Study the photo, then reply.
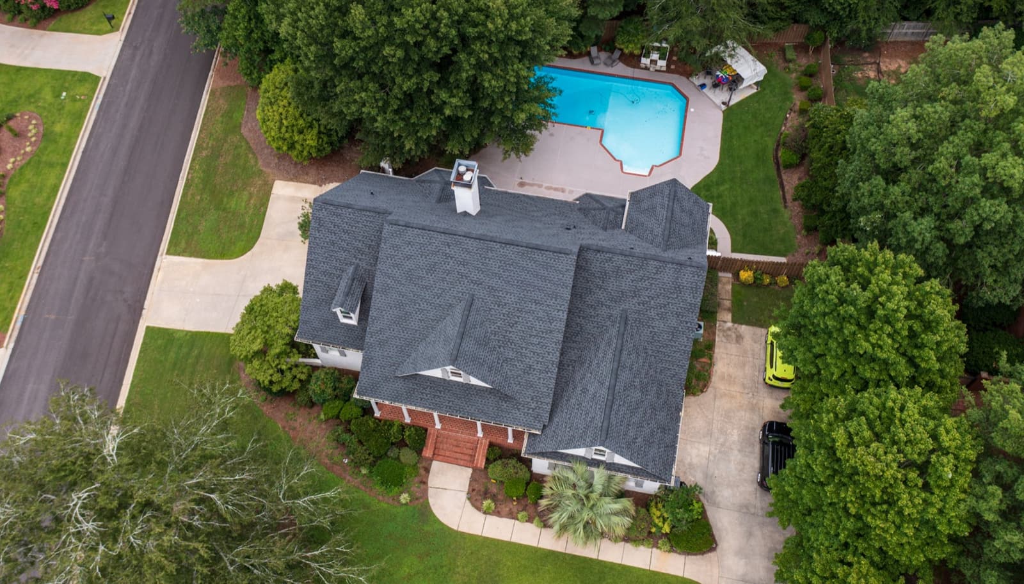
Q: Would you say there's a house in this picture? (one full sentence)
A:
Yes, I can see a house in this picture.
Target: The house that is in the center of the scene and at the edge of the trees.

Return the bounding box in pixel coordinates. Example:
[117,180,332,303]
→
[299,164,713,497]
